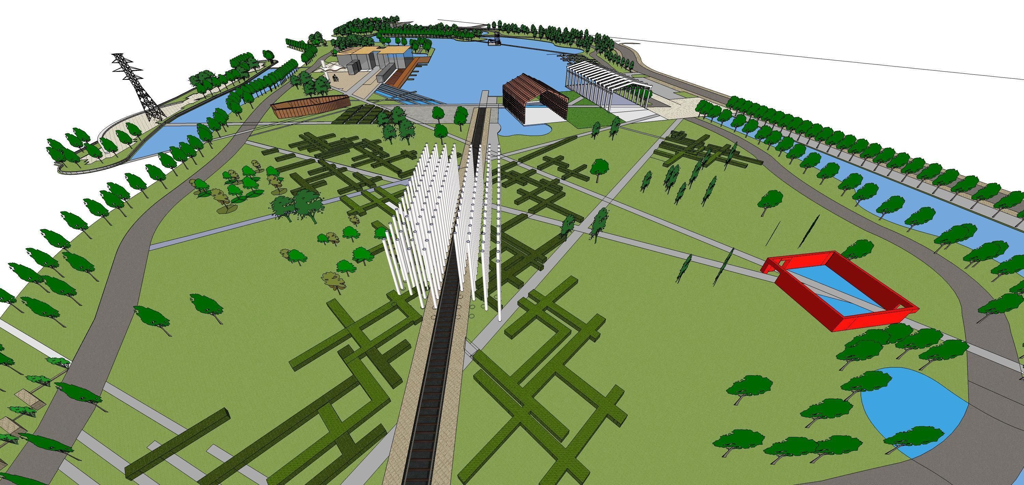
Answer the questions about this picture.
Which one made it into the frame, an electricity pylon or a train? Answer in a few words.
electricity pylon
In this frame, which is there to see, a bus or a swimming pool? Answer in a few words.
swimming pool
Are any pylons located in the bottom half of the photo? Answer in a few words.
No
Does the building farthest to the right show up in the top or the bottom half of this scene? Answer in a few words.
top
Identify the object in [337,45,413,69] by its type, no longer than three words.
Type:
building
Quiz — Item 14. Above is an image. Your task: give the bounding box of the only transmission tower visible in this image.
[110,53,168,121]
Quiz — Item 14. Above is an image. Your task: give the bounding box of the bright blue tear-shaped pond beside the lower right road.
[861,366,970,459]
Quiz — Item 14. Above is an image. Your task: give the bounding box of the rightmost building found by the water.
[565,60,654,111]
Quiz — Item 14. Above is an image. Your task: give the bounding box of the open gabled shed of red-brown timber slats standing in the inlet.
[502,75,569,125]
